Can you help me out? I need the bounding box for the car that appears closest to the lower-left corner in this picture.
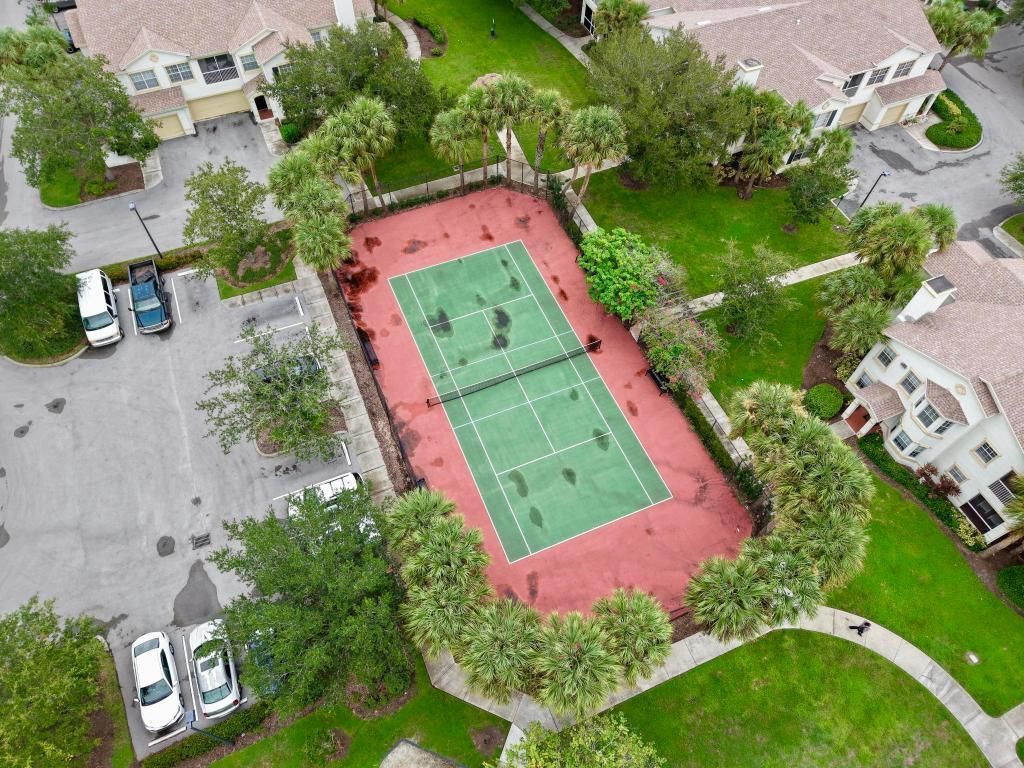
[133,632,184,734]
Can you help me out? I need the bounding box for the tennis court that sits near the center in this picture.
[333,186,751,646]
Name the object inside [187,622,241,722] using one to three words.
car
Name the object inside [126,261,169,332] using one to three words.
truck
